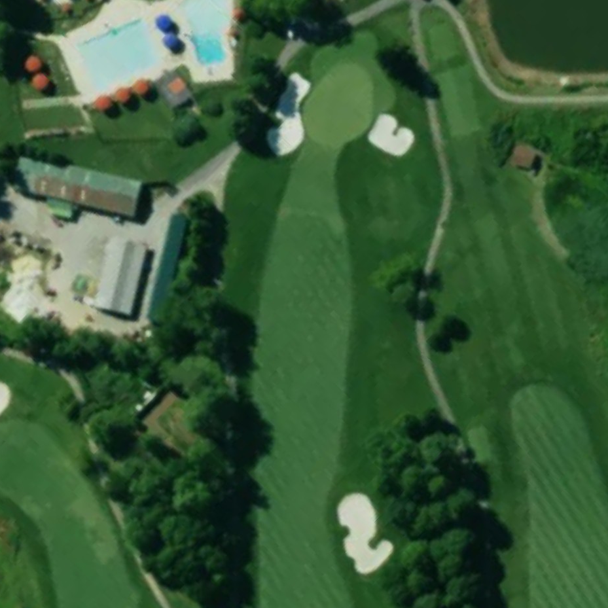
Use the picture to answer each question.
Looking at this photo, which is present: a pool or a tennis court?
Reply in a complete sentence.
The image shows a pool.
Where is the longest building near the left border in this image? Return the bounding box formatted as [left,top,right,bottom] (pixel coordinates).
[21,157,142,217]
